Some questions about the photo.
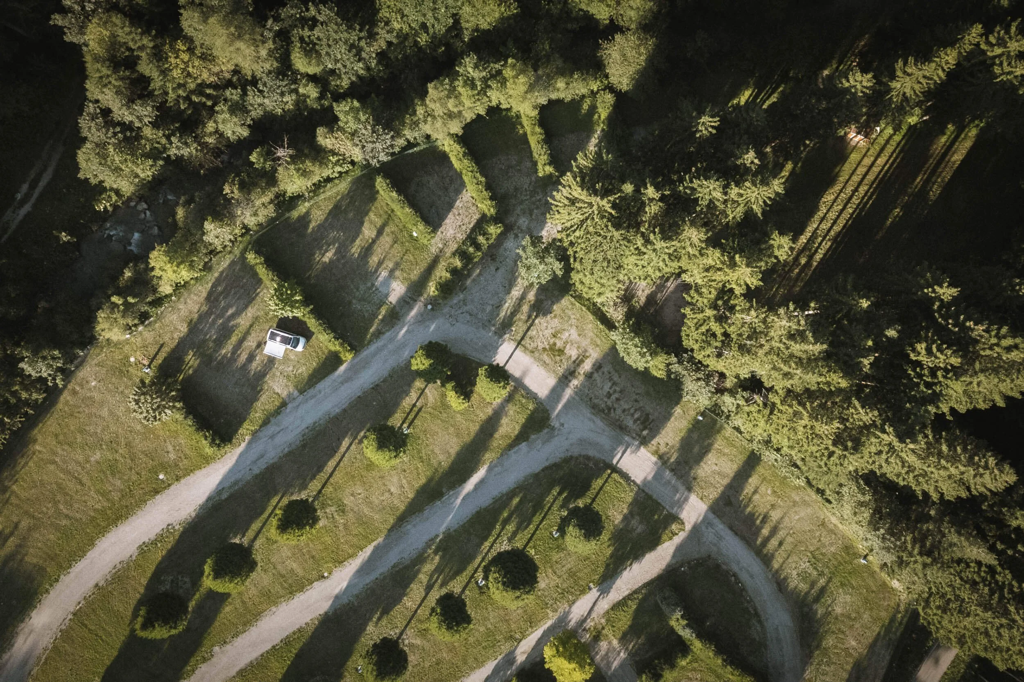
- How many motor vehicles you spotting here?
1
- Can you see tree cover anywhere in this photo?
Yes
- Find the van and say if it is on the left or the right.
left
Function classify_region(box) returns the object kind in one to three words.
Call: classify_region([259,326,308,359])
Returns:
van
